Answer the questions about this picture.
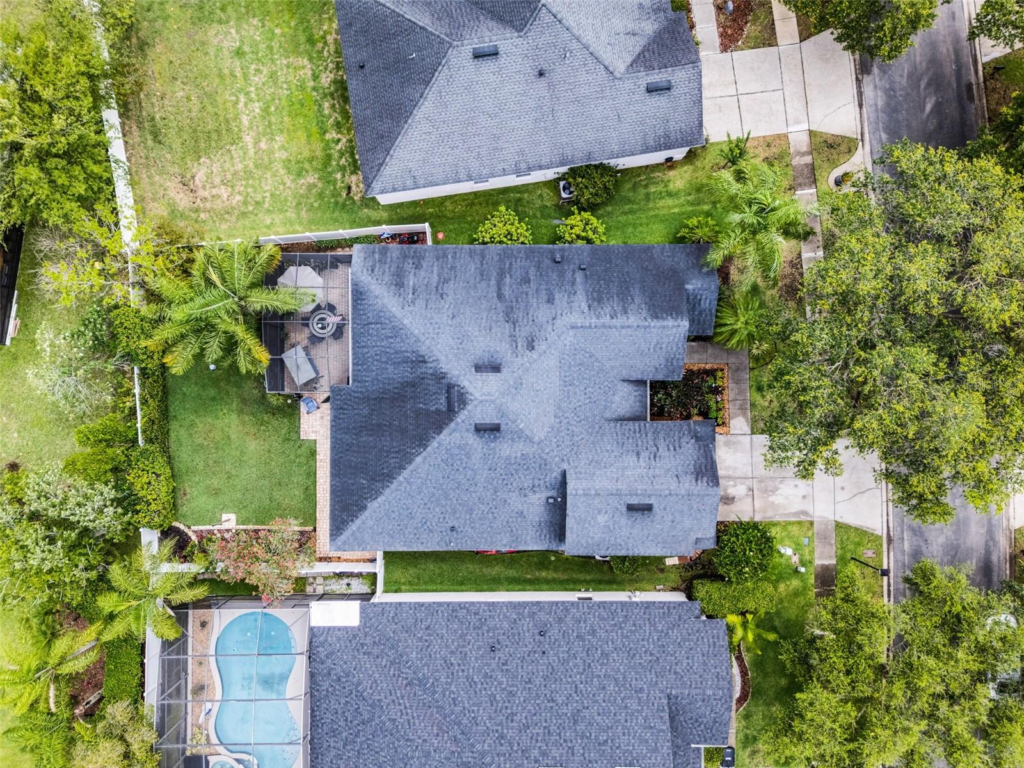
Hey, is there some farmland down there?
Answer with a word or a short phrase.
No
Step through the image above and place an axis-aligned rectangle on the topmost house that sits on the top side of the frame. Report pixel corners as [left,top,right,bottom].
[334,0,705,202]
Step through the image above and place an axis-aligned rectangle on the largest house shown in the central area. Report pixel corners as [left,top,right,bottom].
[329,244,722,556]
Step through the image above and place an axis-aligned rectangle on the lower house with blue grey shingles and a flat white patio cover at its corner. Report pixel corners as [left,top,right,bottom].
[309,589,736,768]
